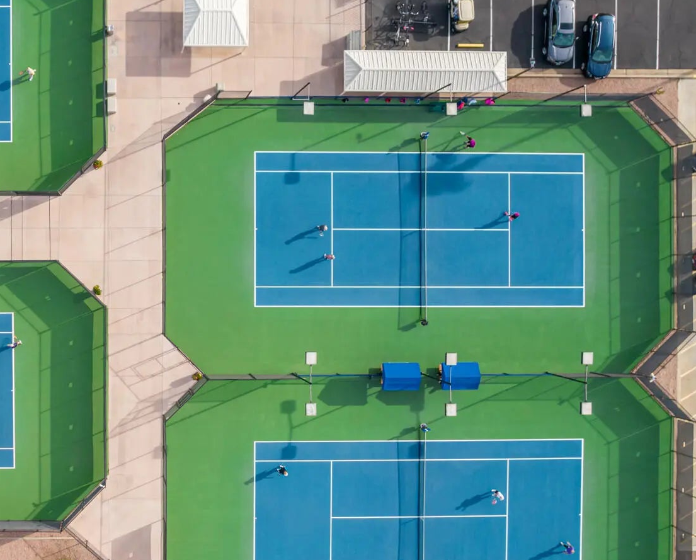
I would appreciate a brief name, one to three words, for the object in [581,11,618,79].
car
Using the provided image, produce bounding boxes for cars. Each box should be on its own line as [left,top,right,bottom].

[542,0,580,64]
[581,11,618,79]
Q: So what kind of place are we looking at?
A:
sports ground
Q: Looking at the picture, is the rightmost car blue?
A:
Yes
